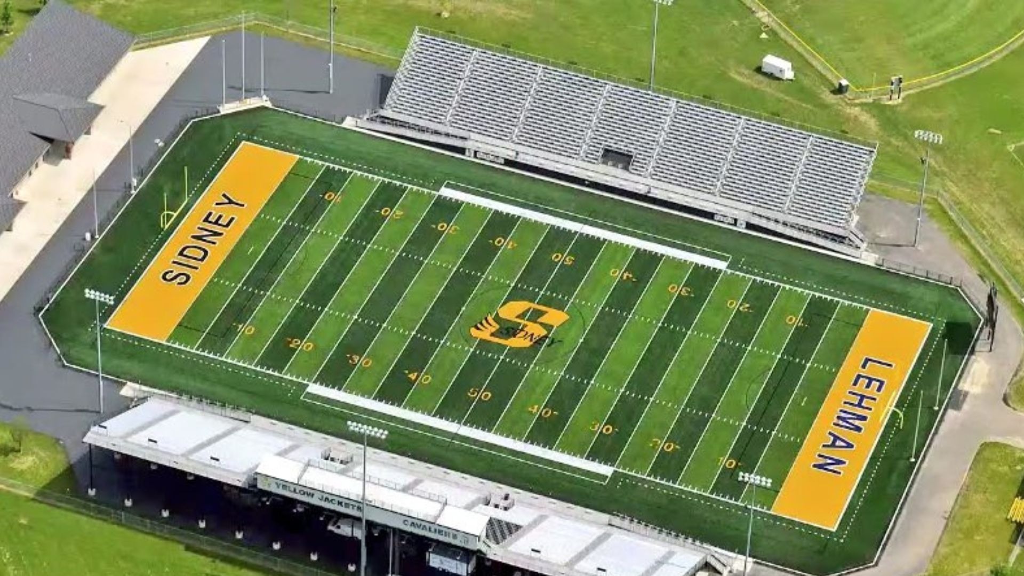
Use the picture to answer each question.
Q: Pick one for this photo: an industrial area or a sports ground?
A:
sports ground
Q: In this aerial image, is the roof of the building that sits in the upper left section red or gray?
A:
gray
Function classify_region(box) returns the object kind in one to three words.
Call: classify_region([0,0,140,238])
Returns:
building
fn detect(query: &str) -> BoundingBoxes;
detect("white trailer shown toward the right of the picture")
[760,53,798,80]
